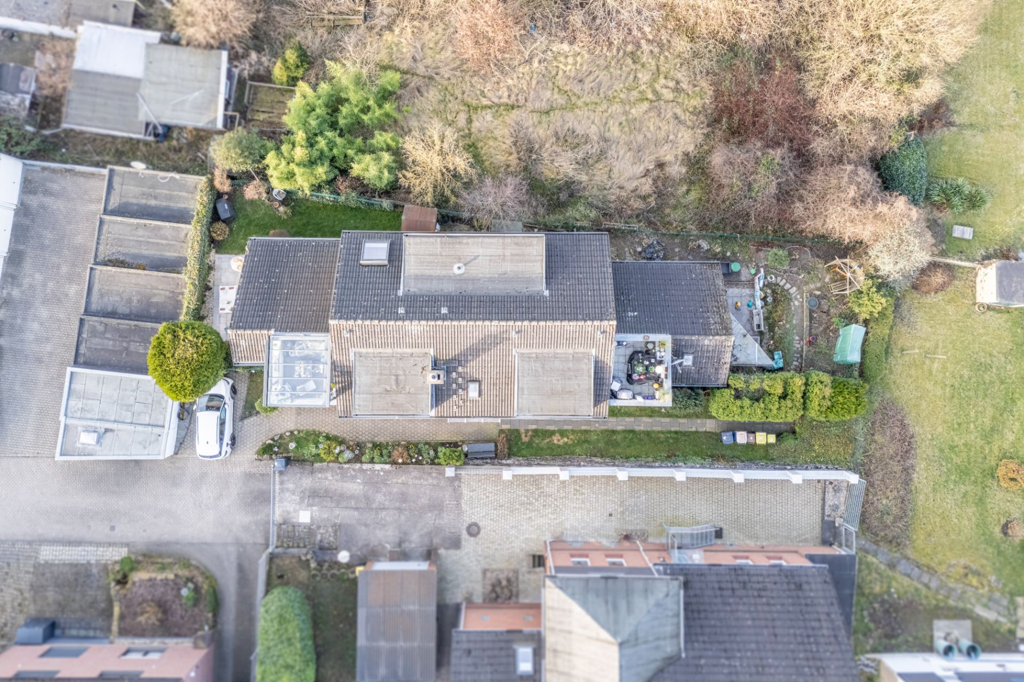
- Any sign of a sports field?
No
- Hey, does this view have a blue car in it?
No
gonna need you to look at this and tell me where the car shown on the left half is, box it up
[190,376,240,457]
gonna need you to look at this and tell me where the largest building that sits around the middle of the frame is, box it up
[327,228,618,423]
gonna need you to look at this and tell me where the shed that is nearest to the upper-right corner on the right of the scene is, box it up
[953,260,1024,309]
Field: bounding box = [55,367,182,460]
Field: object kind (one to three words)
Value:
building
